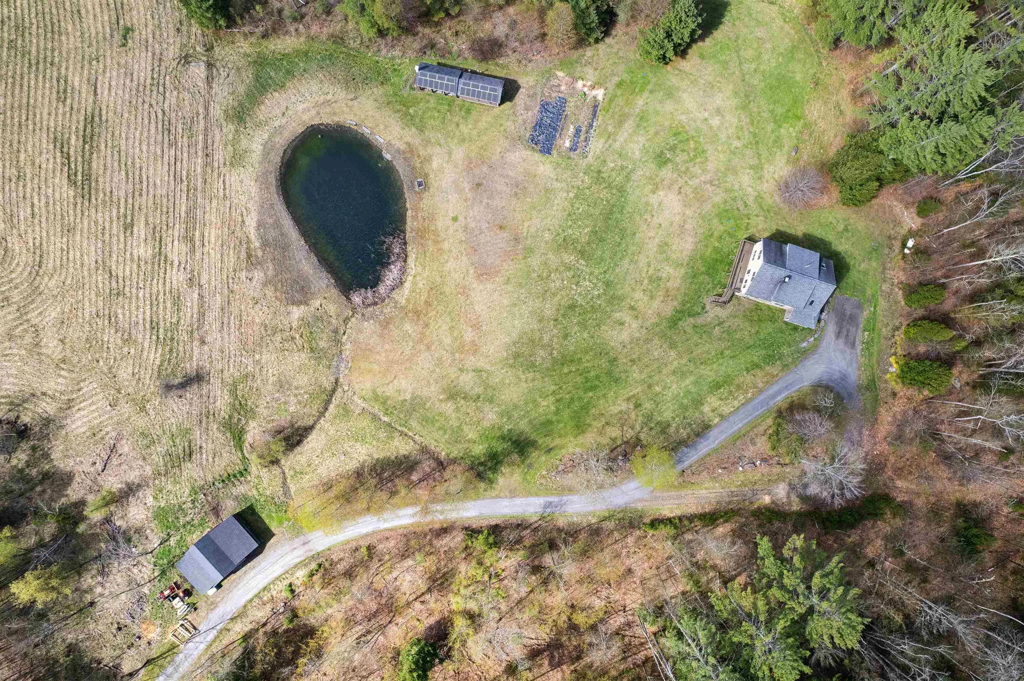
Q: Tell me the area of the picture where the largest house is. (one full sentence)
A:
The largest house sits in the right section of the image.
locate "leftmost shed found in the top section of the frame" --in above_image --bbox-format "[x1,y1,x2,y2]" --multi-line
[416,63,461,98]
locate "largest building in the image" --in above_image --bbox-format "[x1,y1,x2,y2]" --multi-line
[708,238,837,330]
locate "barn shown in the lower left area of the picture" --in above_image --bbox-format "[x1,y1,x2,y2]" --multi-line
[175,513,262,596]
